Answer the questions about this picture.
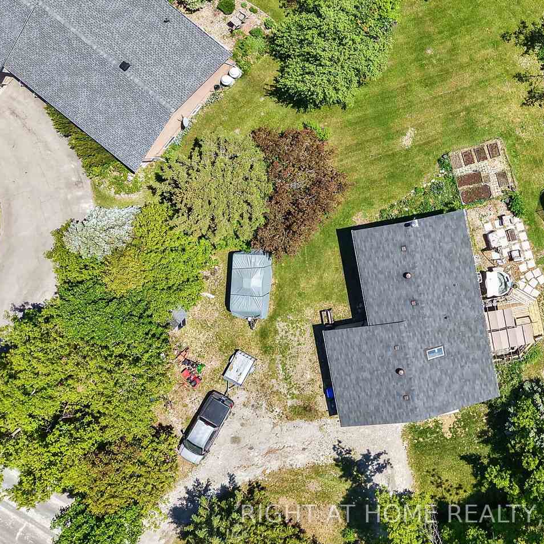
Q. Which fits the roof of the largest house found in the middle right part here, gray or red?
gray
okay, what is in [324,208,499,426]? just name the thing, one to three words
house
